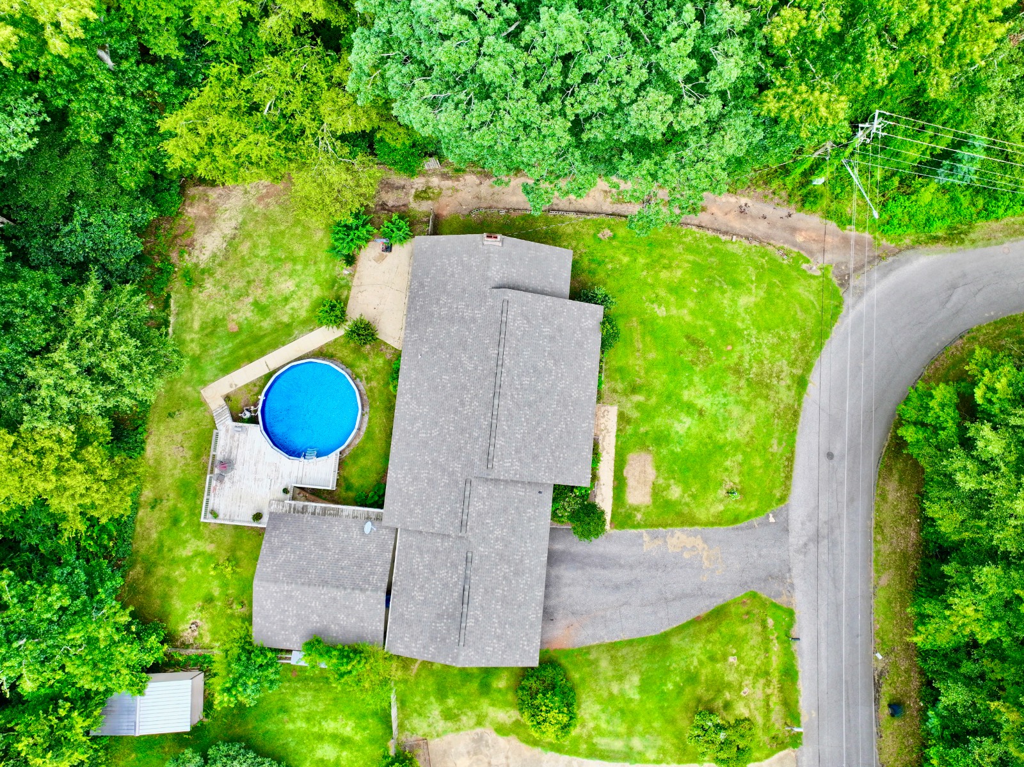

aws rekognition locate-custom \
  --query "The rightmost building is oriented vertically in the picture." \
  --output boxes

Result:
[383,233,604,667]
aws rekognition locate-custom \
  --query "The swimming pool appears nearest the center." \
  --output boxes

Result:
[258,357,366,461]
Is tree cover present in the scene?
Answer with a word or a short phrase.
Yes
